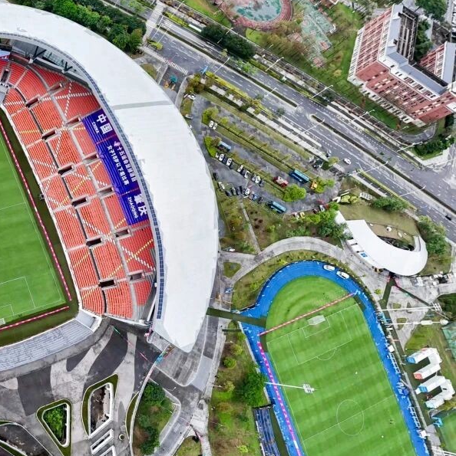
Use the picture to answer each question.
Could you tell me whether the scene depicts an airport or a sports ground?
sports ground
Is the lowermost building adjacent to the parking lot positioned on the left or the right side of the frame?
right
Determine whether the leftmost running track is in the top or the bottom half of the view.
top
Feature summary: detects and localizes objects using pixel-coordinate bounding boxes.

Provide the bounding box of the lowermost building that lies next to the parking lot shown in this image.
[335,211,428,276]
